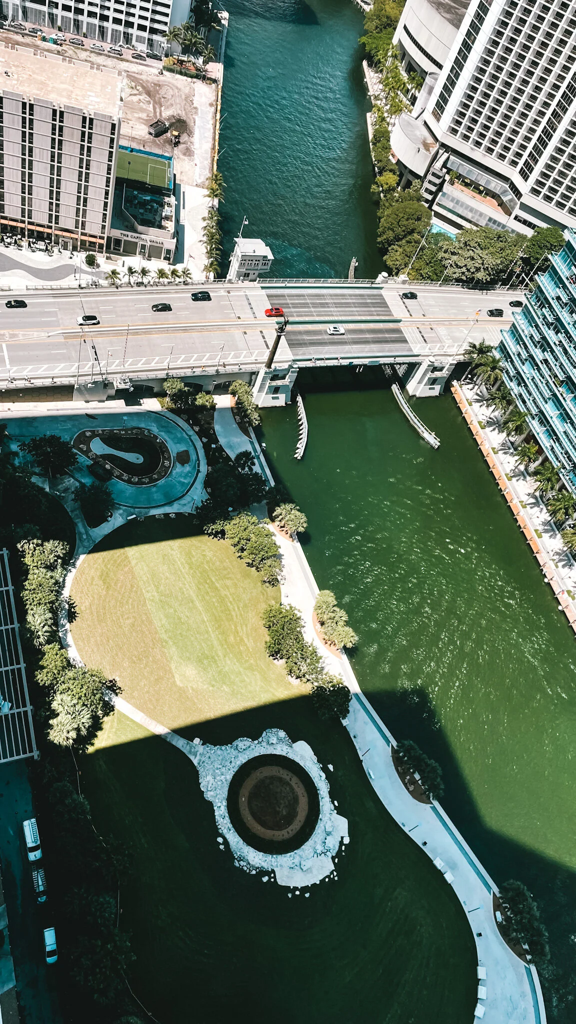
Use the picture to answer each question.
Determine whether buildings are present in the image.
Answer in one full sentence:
Yes, the photo shows a building.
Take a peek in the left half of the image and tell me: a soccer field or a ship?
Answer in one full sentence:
Visible in the left half of the image is a soccer field.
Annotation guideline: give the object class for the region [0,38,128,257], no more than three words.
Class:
building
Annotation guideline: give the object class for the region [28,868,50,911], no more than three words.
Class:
truck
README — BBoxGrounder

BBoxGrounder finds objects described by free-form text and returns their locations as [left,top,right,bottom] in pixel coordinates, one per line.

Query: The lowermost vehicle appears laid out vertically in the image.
[41,923,60,969]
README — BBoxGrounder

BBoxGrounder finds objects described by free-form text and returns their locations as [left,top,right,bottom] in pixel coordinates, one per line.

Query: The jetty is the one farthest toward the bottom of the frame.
[451,387,576,641]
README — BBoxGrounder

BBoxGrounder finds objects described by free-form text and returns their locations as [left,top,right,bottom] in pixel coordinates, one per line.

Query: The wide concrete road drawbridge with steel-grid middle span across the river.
[0,278,545,415]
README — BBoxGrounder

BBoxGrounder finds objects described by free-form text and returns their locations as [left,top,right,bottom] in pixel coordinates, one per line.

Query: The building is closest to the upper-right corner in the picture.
[385,0,576,275]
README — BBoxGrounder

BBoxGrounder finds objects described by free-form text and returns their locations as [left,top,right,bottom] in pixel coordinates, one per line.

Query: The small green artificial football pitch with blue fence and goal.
[115,136,176,197]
